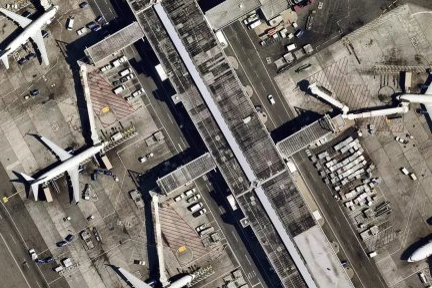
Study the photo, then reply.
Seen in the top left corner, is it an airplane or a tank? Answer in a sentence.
It is an airplane that can be seen in the top left corner.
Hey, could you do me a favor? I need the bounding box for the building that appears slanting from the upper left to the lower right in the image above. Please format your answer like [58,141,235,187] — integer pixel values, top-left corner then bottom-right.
[126,0,356,288]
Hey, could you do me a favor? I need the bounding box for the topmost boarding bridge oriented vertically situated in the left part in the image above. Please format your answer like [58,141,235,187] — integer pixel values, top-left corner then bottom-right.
[78,63,100,146]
